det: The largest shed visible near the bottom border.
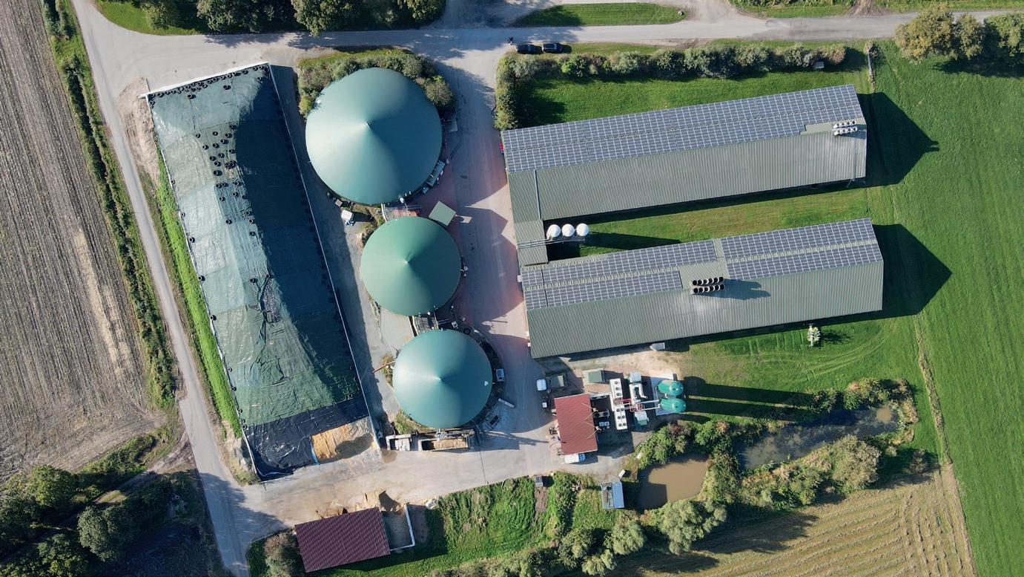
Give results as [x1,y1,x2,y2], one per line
[296,505,390,571]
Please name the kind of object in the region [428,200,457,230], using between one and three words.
shed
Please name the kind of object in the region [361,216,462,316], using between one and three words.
storage tank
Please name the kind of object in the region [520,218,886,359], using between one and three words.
barn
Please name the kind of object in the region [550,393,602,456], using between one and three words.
house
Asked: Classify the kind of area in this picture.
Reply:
industrial area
